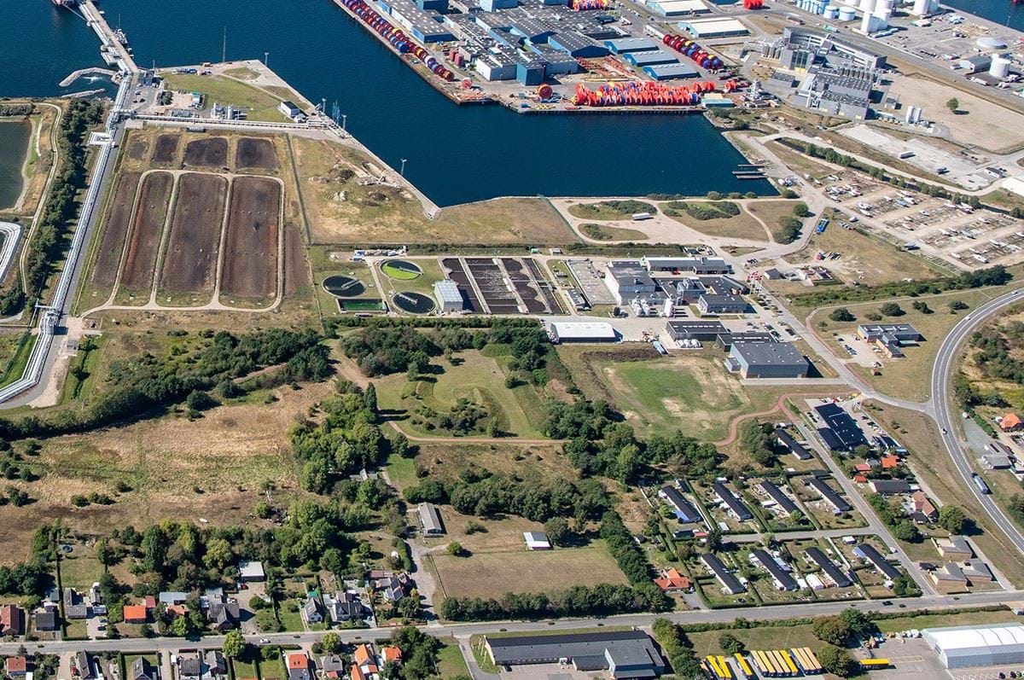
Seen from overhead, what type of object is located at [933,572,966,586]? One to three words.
house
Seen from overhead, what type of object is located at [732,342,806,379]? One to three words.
building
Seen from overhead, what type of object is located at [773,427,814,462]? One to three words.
house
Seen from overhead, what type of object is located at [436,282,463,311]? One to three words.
building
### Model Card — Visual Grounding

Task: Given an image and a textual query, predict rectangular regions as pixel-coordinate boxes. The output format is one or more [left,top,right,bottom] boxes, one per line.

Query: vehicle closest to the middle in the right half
[652,337,667,352]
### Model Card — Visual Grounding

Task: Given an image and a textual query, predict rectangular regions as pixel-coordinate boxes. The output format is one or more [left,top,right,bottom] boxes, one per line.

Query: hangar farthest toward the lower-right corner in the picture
[929,626,1024,669]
